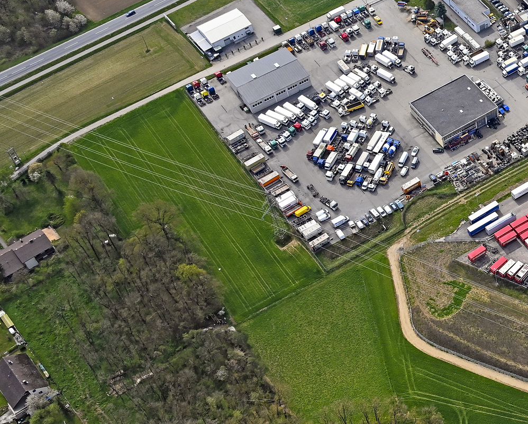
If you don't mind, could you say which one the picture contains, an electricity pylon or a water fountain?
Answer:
electricity pylon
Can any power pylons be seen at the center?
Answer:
Yes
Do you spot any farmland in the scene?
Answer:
Yes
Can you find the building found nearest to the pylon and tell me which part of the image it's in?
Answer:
top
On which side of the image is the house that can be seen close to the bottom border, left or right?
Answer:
left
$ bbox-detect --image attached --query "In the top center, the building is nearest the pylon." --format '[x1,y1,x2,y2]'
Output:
[227,47,310,111]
